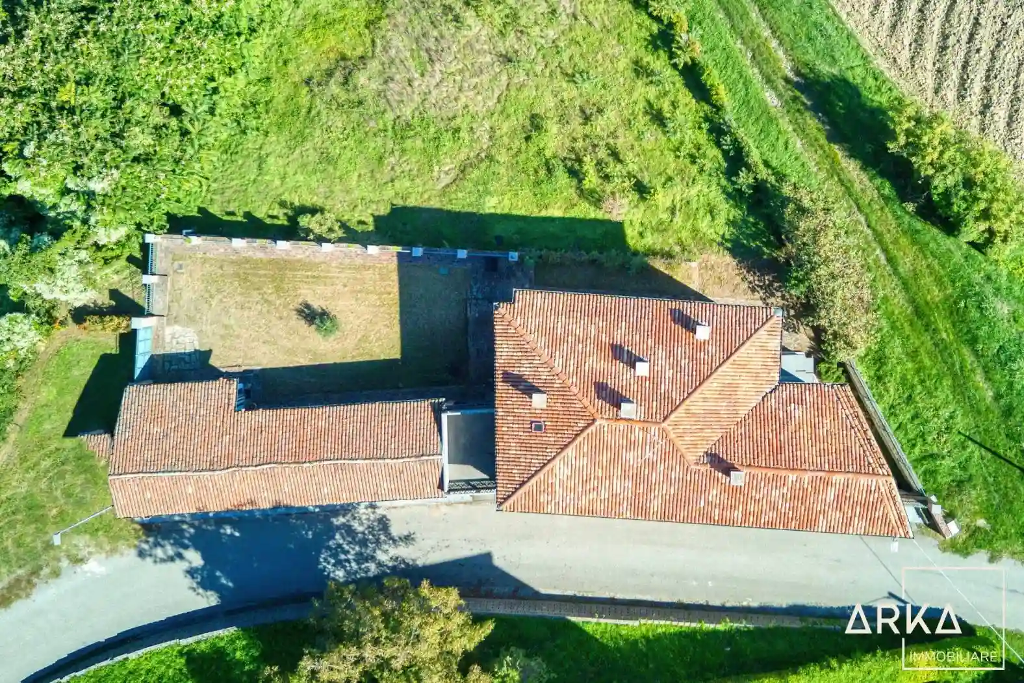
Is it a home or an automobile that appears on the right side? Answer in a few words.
home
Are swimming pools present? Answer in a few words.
No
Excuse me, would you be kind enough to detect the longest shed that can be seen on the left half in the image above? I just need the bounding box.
[108,379,445,519]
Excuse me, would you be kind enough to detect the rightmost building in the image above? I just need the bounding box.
[493,289,913,539]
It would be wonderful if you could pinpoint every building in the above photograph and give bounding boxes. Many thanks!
[493,289,913,539]
[108,379,445,519]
